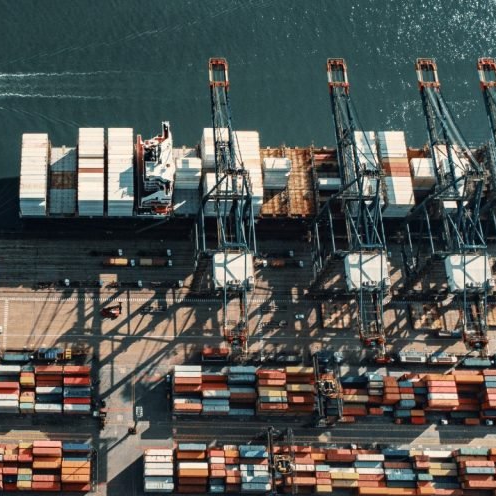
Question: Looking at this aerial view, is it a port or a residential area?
port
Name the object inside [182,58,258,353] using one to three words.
crane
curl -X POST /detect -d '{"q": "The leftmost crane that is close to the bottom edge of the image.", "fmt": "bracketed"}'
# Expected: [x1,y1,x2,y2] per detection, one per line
[256,433,302,496]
